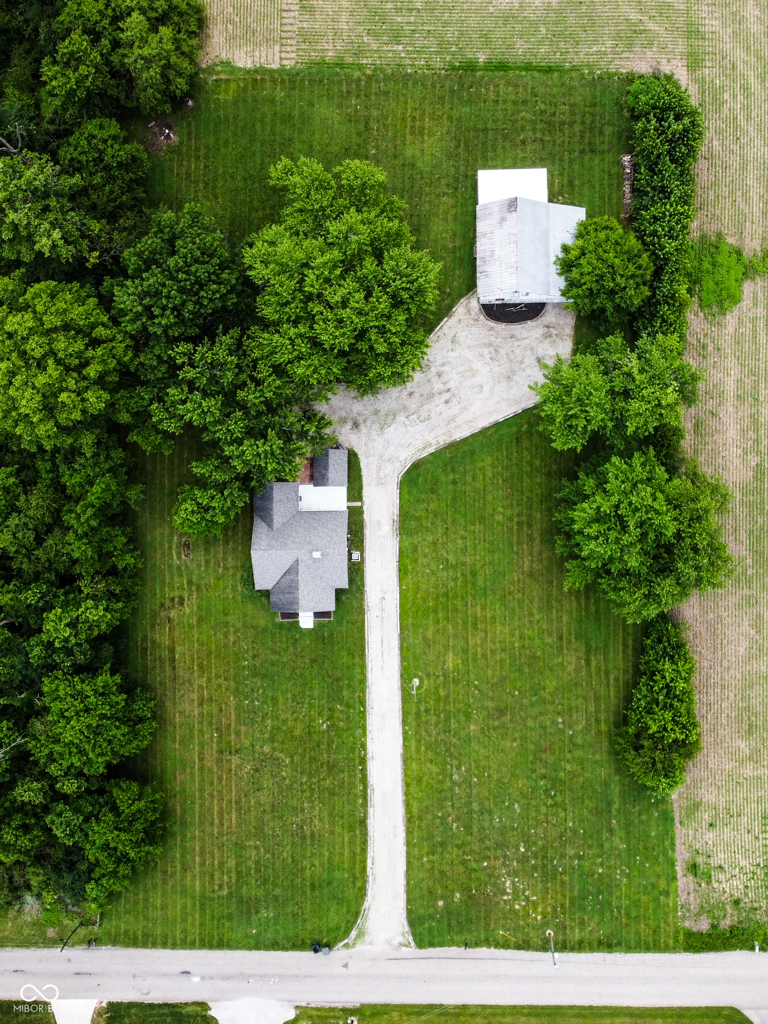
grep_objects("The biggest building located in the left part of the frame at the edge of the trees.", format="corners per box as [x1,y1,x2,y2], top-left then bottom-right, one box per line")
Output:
[251,482,350,613]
